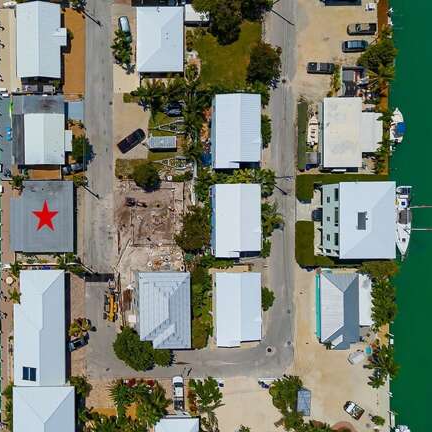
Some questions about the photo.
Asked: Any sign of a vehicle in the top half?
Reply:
Yes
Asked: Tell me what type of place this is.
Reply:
residential area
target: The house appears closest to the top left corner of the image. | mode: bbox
[16,0,67,79]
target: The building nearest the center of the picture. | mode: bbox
[213,184,262,258]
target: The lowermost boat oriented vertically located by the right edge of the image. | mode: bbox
[396,186,432,262]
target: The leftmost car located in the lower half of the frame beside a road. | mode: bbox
[66,334,91,352]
